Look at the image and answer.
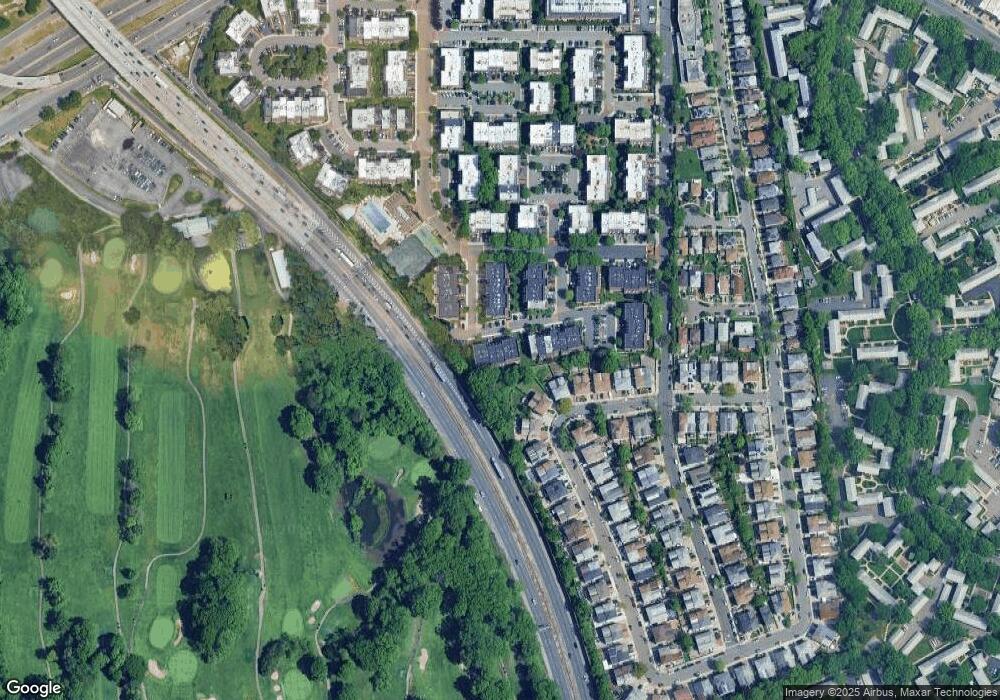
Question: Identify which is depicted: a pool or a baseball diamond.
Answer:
pool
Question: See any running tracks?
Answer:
No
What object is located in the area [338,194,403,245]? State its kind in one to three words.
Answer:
swimming pool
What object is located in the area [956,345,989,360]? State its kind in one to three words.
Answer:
building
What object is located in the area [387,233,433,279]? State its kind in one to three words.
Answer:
tennis court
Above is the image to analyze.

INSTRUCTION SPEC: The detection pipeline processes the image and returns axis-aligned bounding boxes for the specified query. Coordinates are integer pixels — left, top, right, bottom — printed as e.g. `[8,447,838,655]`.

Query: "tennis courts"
[387,233,433,279]
[415,225,444,257]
